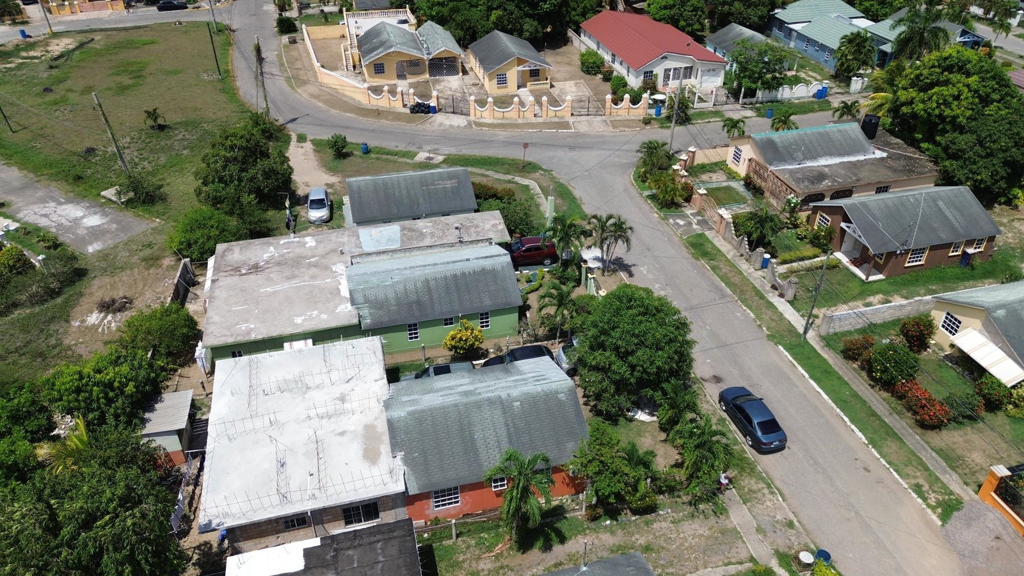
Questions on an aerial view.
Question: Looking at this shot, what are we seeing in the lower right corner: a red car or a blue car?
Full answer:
You can see a blue car in the lower right corner.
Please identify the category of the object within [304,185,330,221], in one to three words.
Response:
car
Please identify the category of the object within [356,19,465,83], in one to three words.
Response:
house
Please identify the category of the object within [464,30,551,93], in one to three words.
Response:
house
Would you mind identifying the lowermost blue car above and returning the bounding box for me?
[720,389,789,453]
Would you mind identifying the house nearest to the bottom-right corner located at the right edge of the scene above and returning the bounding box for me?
[930,281,1024,394]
